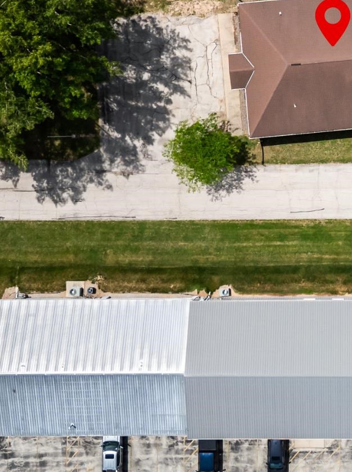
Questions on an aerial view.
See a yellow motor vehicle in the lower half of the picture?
No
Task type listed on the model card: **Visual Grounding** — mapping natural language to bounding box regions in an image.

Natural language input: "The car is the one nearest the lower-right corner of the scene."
[265,440,290,472]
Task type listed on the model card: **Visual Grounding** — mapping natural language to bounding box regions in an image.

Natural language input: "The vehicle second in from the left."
[201,440,222,472]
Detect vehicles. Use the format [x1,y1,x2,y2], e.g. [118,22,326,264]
[265,440,290,472]
[201,440,222,472]
[99,438,124,472]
